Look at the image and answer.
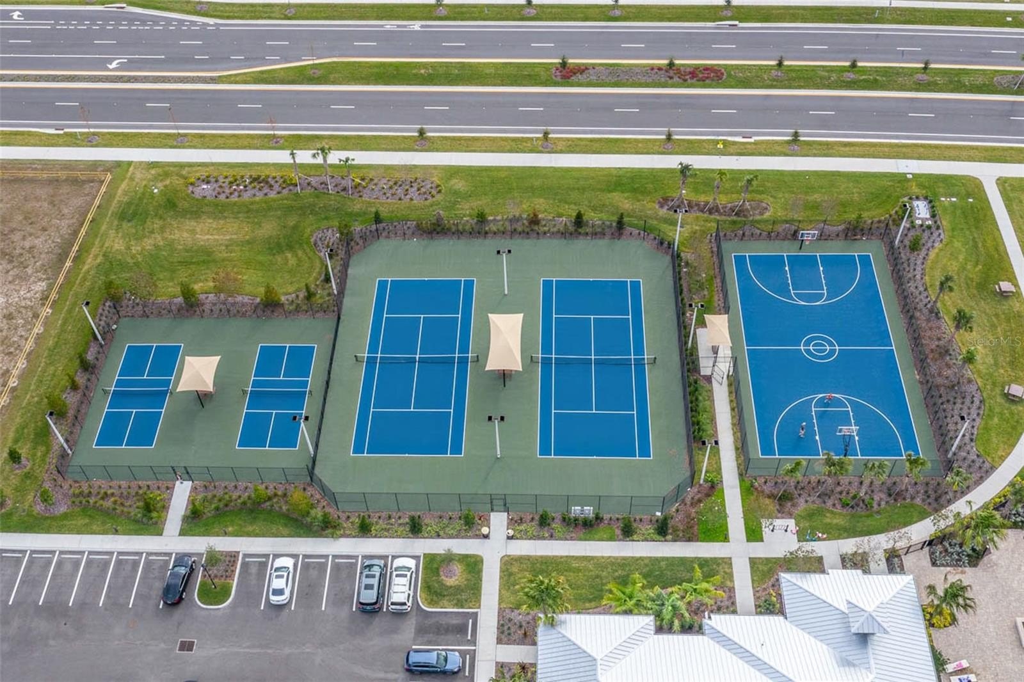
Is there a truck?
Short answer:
No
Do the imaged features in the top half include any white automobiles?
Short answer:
No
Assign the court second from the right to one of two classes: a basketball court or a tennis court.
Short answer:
tennis court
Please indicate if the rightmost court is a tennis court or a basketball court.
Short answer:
basketball court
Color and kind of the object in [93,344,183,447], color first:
blue sports court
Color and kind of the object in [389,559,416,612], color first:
white car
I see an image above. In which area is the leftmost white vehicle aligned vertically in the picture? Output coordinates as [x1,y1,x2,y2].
[269,556,295,606]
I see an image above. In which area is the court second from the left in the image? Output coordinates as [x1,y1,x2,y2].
[235,344,316,449]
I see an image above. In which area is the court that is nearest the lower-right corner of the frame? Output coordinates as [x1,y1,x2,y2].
[733,253,920,458]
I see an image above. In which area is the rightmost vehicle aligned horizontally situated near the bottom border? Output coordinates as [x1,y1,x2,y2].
[404,649,462,677]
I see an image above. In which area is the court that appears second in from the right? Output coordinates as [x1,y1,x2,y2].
[530,279,656,458]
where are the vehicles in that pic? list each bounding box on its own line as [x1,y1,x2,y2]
[389,559,416,612]
[269,556,295,606]
[161,554,196,606]
[404,649,462,677]
[358,560,385,613]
